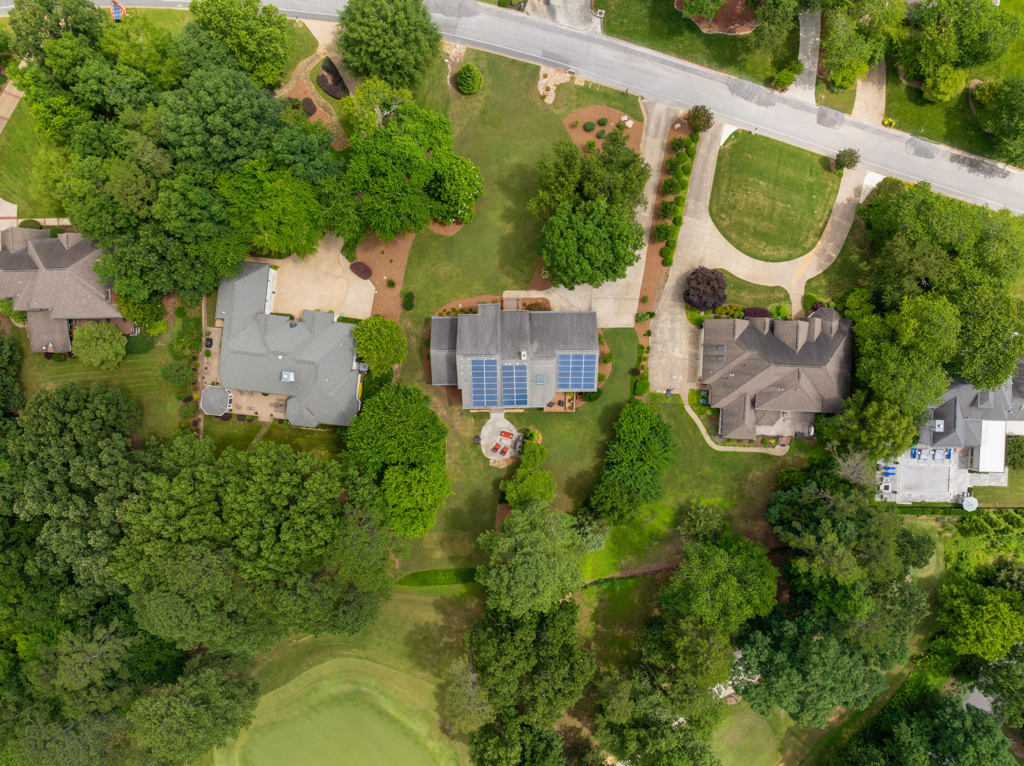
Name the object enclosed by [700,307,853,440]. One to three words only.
house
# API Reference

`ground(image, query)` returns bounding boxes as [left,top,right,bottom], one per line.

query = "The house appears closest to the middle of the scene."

[430,303,599,410]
